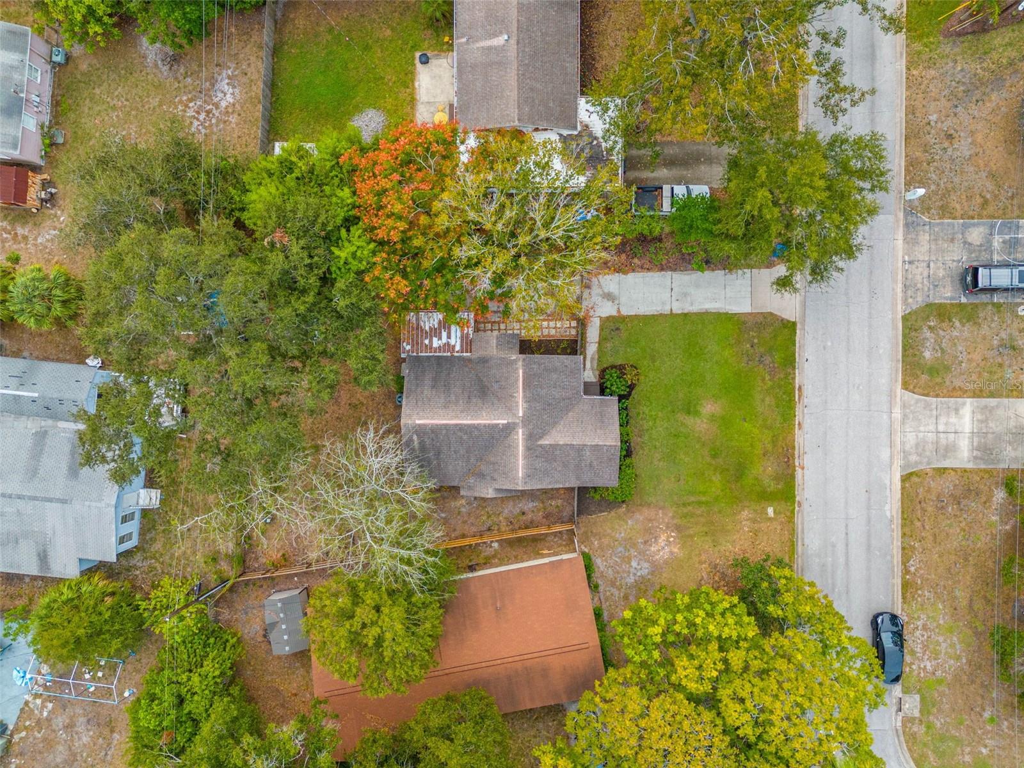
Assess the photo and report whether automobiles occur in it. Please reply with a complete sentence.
Yes, you can see an automobile in this photo.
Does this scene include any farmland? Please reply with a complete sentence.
No, no farmland is visible.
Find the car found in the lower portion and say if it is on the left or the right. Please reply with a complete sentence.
It is on the right.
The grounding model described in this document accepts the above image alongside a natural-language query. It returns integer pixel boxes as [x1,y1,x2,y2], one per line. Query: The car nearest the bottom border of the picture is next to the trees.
[869,612,907,682]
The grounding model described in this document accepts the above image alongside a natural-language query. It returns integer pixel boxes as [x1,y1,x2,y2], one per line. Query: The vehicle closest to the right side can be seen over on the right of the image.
[963,261,1024,296]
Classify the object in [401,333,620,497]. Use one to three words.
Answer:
house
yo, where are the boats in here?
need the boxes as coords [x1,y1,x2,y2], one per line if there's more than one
[903,187,925,200]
